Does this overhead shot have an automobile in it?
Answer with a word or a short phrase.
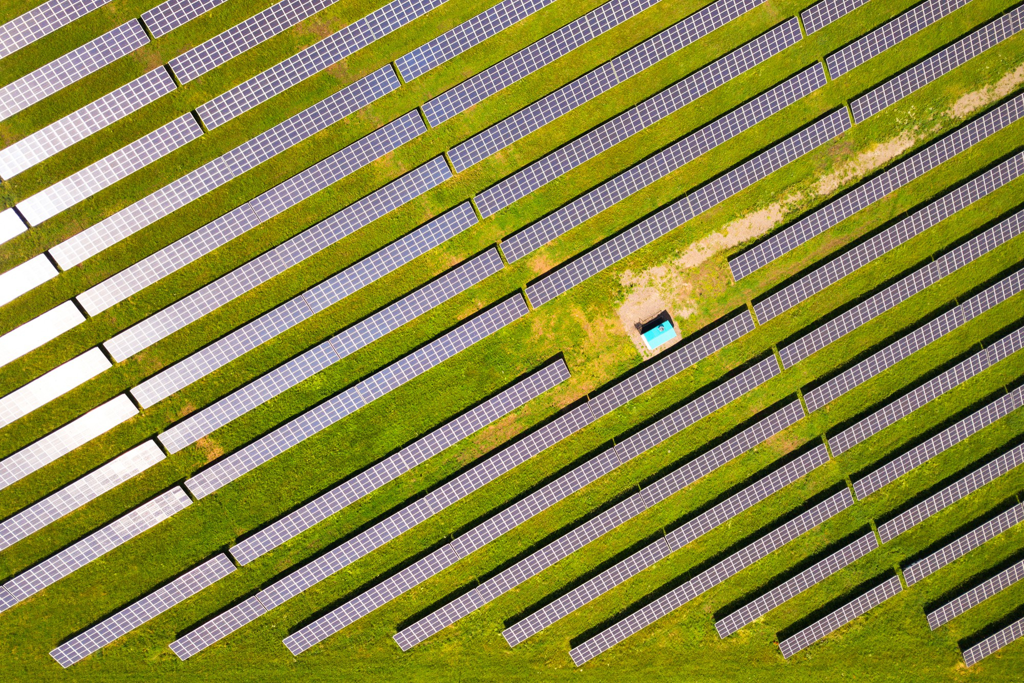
No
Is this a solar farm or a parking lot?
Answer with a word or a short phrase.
solar farm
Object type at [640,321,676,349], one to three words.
building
